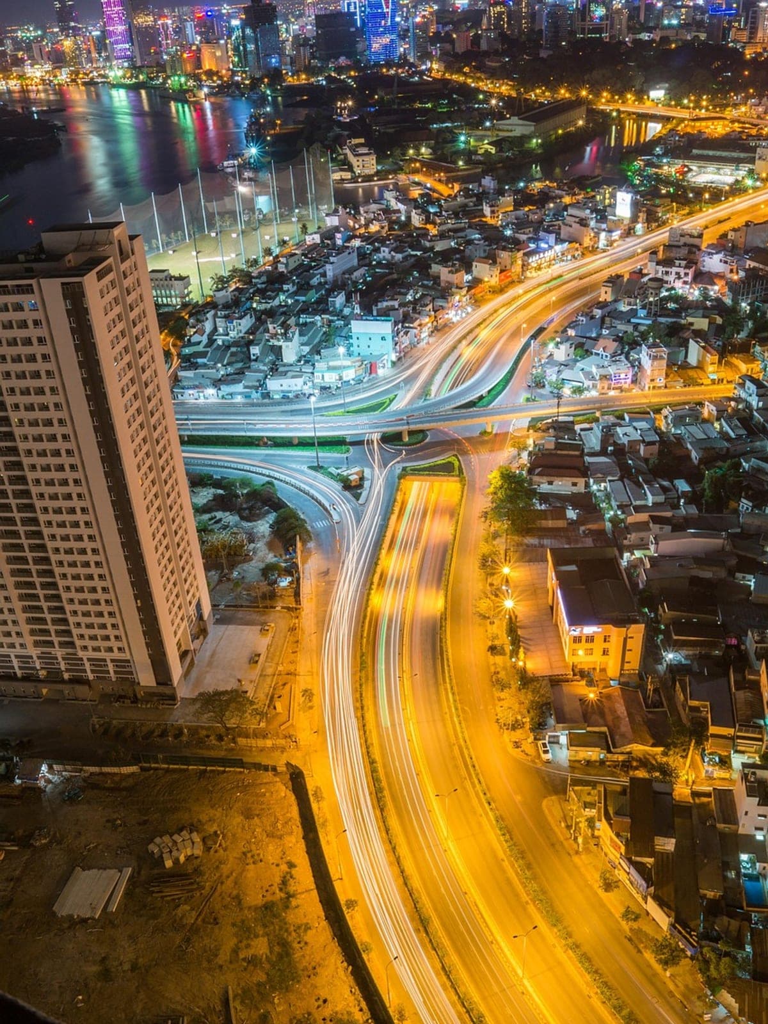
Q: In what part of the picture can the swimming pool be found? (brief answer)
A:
bottom right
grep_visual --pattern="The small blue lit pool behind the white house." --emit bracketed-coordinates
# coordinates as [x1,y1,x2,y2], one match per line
[736,857,768,909]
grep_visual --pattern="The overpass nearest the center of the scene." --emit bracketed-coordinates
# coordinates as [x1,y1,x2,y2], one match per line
[172,320,745,443]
